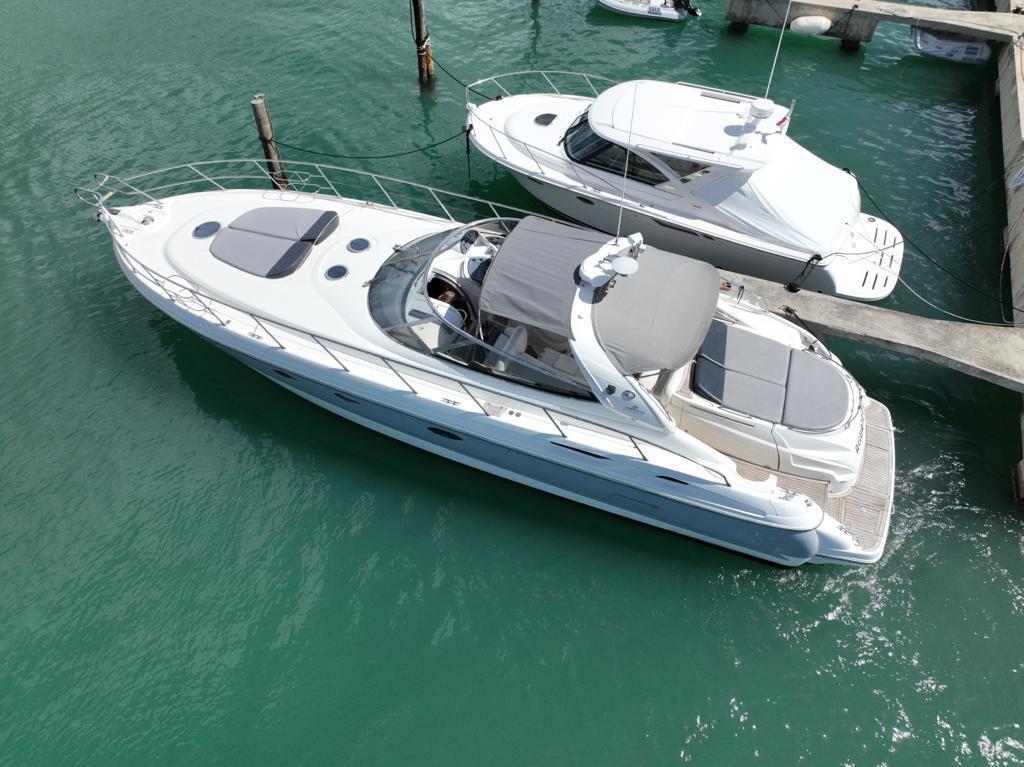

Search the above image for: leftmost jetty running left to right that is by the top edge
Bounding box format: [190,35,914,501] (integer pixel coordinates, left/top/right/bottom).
[726,0,1012,52]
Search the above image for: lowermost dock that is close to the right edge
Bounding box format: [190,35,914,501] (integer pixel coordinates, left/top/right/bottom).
[707,272,1024,401]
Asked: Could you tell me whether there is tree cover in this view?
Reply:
No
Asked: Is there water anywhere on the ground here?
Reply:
Yes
